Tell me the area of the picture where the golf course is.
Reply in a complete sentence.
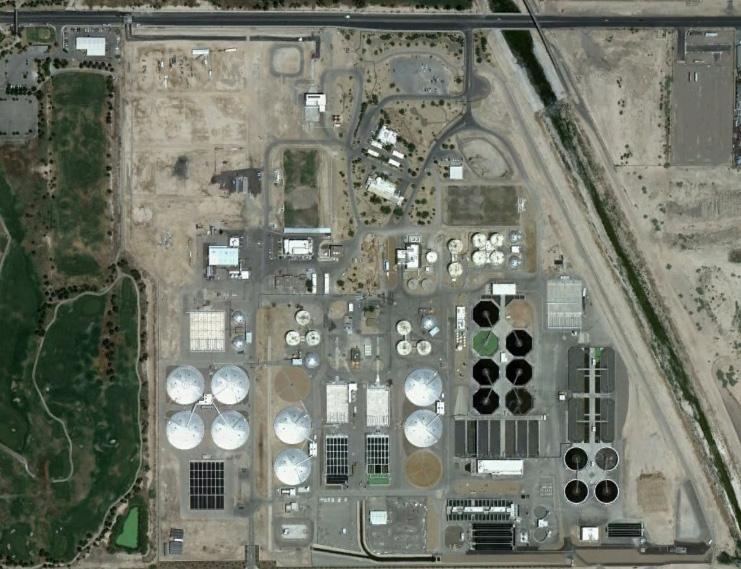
The golf course is located in the left region of the scene.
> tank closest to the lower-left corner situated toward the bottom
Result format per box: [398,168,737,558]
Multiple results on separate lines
[166,410,204,449]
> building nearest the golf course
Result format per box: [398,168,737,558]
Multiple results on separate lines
[75,37,105,56]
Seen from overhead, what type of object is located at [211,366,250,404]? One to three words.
storage tank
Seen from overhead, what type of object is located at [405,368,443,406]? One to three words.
storage tank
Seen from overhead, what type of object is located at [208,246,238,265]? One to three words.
building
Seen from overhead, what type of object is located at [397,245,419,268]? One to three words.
building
